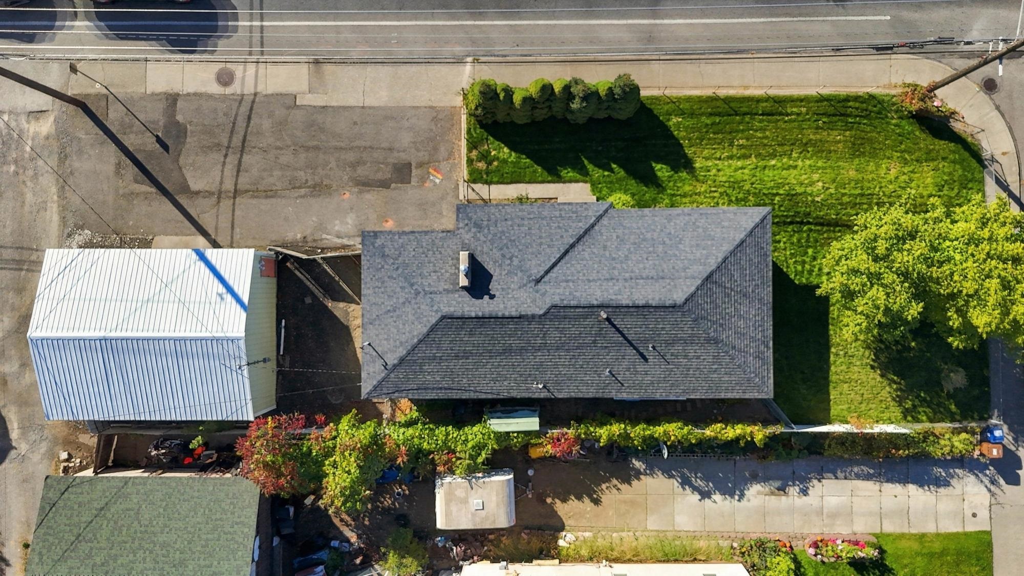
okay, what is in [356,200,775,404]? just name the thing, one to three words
house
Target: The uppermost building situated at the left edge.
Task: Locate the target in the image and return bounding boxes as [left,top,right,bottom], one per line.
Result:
[24,249,277,438]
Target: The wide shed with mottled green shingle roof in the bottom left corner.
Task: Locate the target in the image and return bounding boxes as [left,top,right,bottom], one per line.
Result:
[25,465,278,576]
